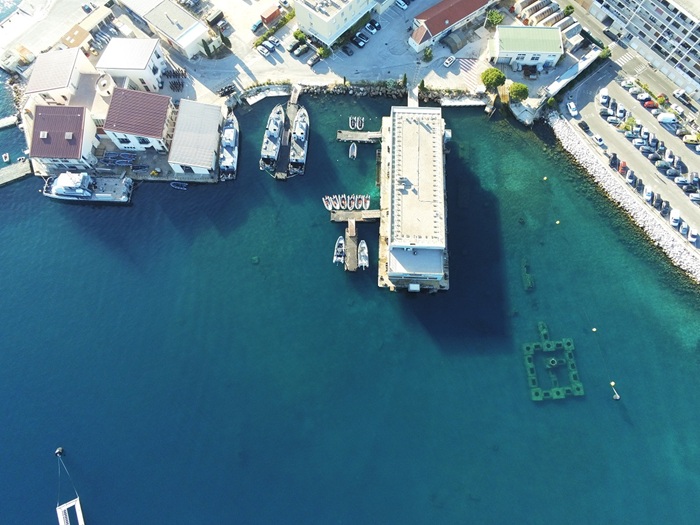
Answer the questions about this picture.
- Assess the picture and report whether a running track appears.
No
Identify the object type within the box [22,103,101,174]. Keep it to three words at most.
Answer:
house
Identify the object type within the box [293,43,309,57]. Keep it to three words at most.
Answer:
vehicle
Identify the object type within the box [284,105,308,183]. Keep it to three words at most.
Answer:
boat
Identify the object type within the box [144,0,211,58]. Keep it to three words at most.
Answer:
building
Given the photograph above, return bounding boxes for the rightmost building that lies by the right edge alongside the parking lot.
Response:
[579,0,700,116]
